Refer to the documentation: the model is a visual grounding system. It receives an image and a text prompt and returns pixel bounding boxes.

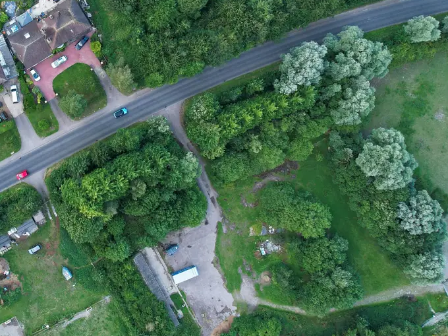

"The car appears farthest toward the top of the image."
[73,35,91,51]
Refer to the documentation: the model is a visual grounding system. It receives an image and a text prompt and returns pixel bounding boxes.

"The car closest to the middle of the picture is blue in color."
[164,242,181,257]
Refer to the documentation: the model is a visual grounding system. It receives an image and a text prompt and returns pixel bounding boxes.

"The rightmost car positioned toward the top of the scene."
[112,106,129,119]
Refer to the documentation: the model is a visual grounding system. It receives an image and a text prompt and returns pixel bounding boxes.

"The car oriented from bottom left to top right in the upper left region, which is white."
[49,55,68,69]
